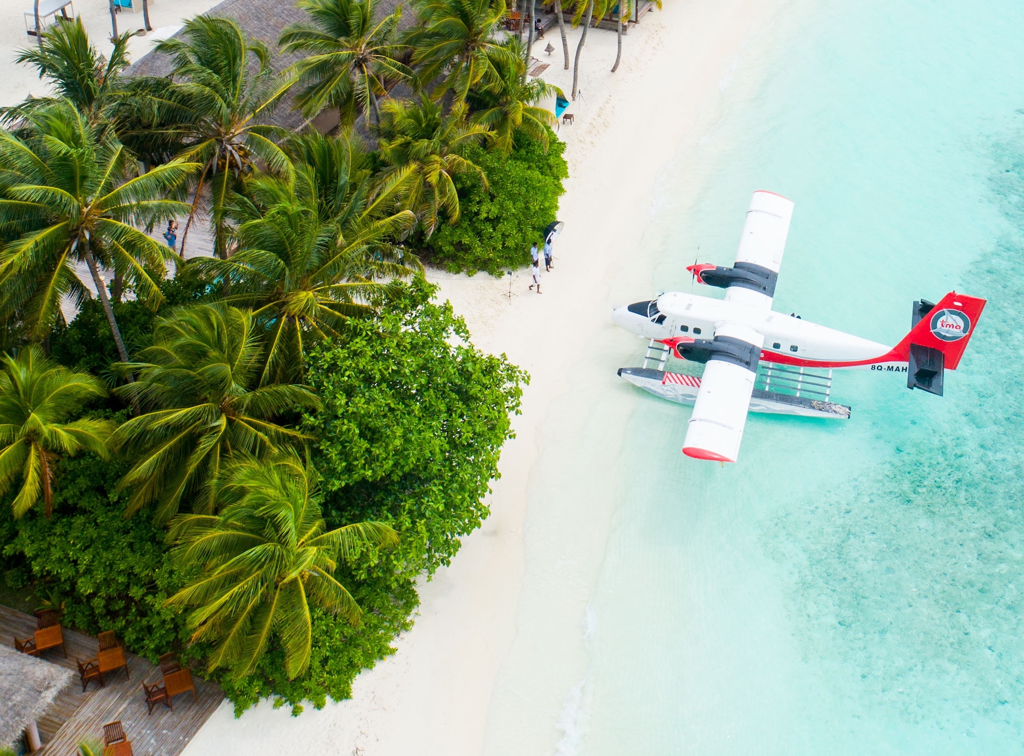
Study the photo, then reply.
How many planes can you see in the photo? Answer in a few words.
1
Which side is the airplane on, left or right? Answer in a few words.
right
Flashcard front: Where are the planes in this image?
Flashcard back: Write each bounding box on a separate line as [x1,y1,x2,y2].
[612,191,986,462]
